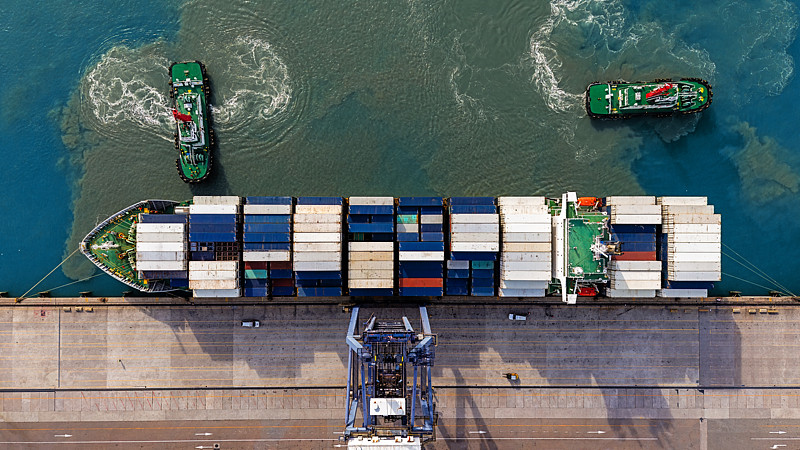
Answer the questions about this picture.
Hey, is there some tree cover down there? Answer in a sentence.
No, the scene doesn't show any tree cover.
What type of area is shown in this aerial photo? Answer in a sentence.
It's a port.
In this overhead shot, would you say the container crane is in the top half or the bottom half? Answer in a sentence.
It is in the bottom half that the container crane appears.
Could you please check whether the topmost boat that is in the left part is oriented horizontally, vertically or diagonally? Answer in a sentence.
I'd say the topmost boat that is in the left part is aligned vertically in the picture.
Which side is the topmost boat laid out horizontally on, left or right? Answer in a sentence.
The topmost boat laid out horizontally appears in the right half of the scene.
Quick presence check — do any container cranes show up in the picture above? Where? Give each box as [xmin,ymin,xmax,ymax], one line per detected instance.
[339,305,445,450]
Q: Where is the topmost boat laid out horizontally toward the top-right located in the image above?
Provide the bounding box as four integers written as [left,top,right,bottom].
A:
[585,77,712,120]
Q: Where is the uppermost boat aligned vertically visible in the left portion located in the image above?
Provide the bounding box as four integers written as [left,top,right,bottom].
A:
[168,58,214,184]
